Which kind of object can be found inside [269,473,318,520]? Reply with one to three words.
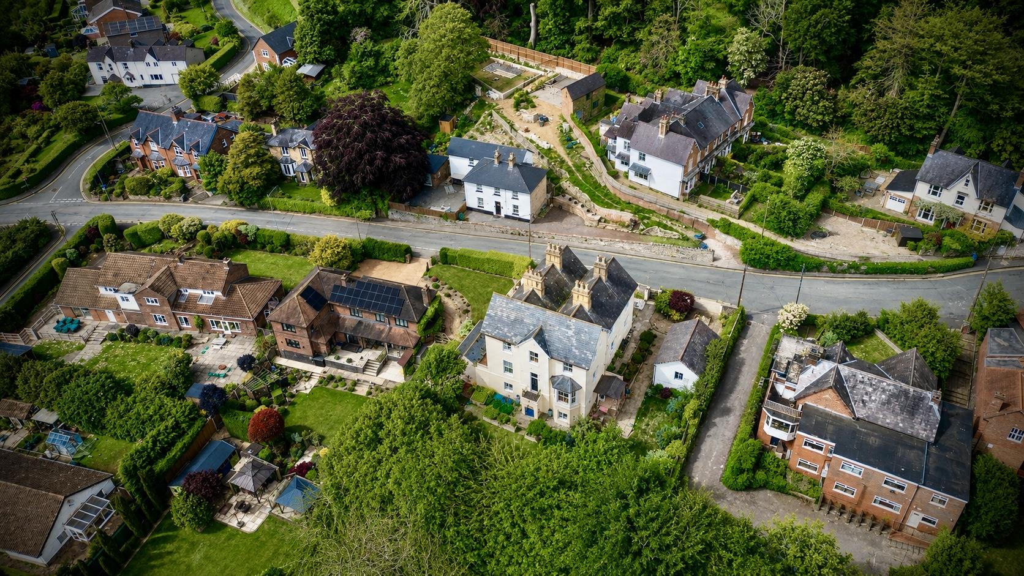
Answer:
gazebo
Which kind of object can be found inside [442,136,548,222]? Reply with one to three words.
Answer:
house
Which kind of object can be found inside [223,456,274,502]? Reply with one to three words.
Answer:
gazebo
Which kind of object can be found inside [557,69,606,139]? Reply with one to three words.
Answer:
barn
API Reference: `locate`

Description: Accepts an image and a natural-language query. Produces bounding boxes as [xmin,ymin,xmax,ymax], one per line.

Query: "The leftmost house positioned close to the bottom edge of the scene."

[0,440,126,571]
